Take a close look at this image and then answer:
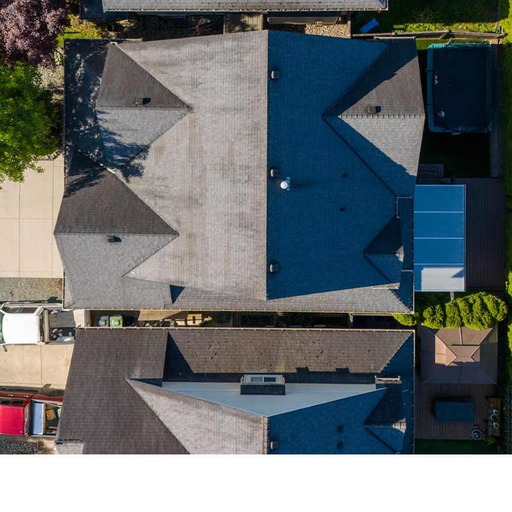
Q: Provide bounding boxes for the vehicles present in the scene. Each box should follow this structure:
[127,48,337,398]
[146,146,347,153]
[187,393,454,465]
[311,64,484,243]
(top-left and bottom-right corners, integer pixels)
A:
[0,302,74,343]
[0,388,66,432]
